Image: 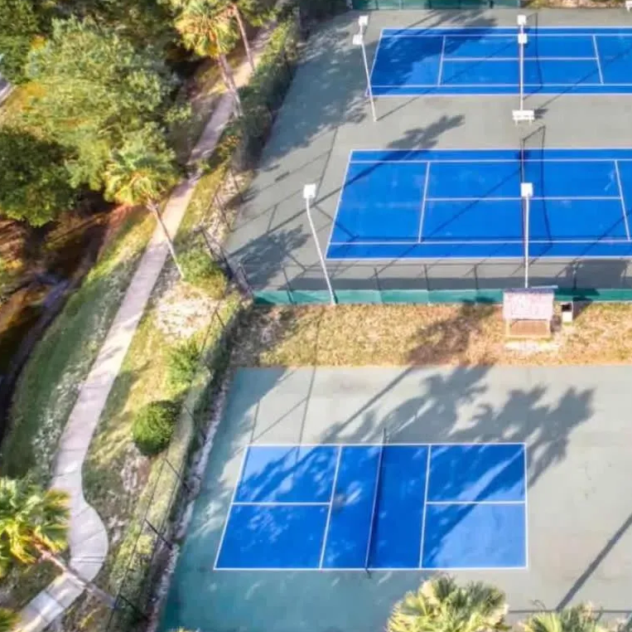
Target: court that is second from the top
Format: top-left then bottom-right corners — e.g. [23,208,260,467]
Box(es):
[325,128,632,259]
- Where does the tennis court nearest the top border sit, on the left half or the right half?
right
